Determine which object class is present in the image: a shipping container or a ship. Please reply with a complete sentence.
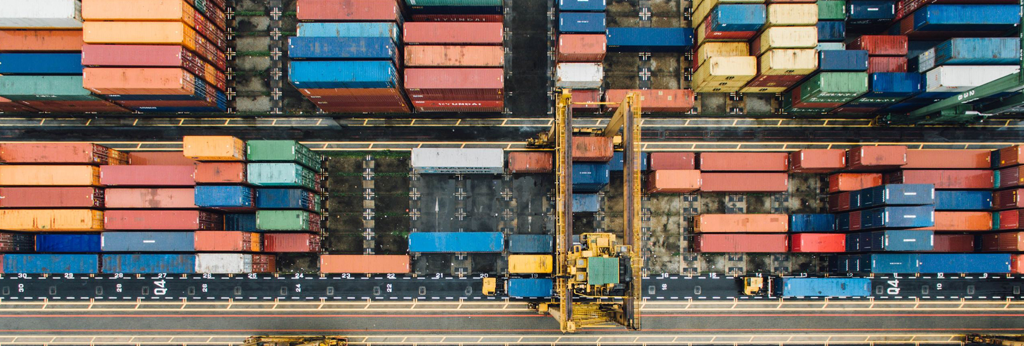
It is a shipping container that can be seen here.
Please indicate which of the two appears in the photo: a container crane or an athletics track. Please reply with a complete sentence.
This aerial view contains a container crane.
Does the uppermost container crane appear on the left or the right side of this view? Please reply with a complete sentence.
You can find the uppermost container crane on the right side of the picture.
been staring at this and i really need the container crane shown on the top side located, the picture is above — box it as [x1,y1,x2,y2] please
[885,67,1024,126]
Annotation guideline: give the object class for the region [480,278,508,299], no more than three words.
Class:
truck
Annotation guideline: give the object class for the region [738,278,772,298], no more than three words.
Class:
vehicle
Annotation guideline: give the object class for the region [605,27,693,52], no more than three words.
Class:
shipping container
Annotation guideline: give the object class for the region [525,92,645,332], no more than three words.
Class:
container crane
